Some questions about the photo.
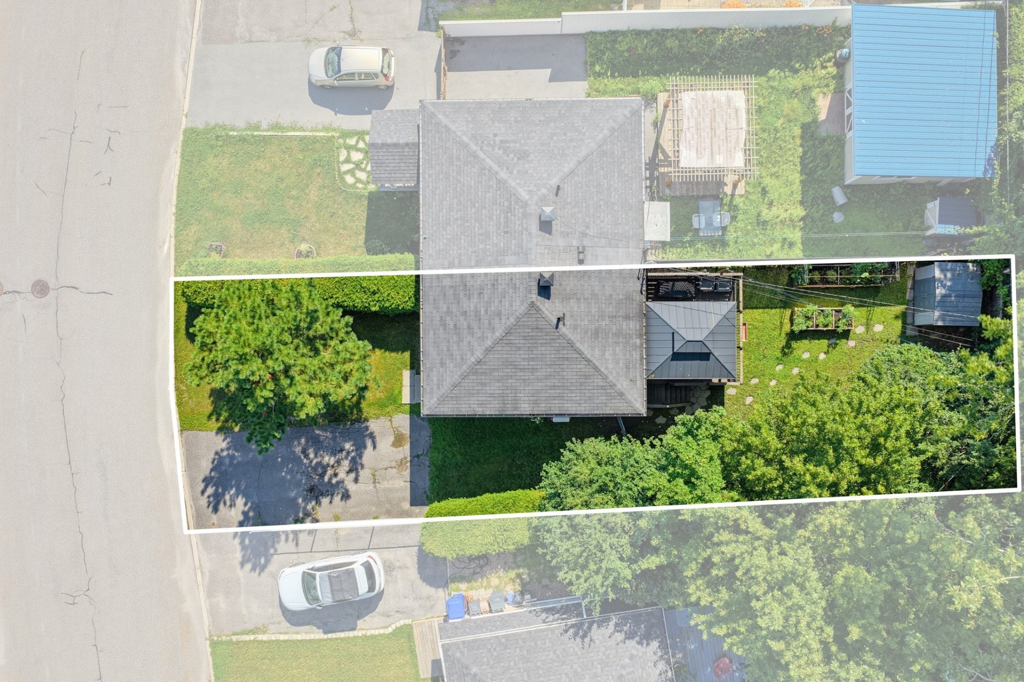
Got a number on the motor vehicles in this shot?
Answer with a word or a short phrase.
two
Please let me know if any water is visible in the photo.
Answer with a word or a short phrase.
No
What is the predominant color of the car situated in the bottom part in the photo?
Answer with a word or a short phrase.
white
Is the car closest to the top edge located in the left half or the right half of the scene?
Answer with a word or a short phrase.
left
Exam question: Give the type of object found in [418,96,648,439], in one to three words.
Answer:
house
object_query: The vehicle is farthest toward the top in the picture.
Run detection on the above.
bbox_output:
[307,40,396,90]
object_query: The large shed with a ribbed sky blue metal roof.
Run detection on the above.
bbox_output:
[843,4,997,185]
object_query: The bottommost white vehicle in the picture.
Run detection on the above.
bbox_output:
[280,554,386,609]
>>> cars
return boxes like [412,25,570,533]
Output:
[307,40,396,90]
[280,554,386,609]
